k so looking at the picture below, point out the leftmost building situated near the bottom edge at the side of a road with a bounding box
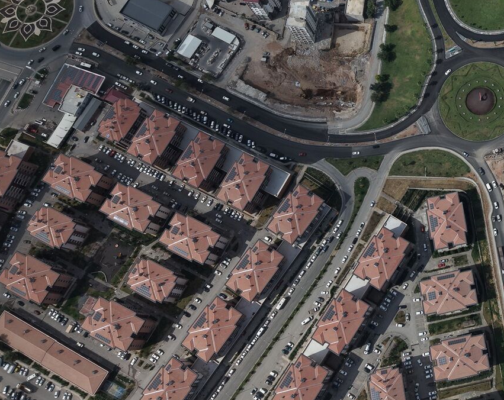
[0,310,116,397]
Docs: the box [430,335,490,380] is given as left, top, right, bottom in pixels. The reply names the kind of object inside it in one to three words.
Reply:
building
